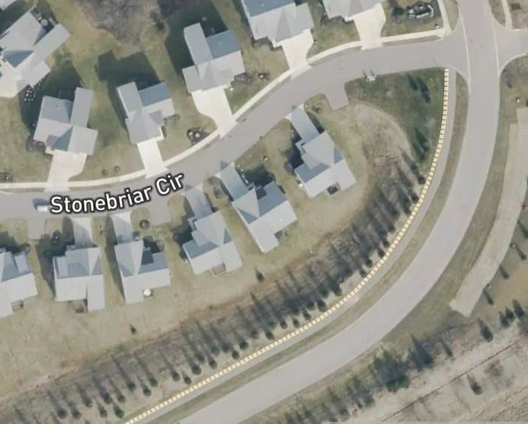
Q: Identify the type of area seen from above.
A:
residential area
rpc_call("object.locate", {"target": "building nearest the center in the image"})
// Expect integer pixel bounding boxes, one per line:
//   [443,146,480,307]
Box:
[229,181,297,252]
